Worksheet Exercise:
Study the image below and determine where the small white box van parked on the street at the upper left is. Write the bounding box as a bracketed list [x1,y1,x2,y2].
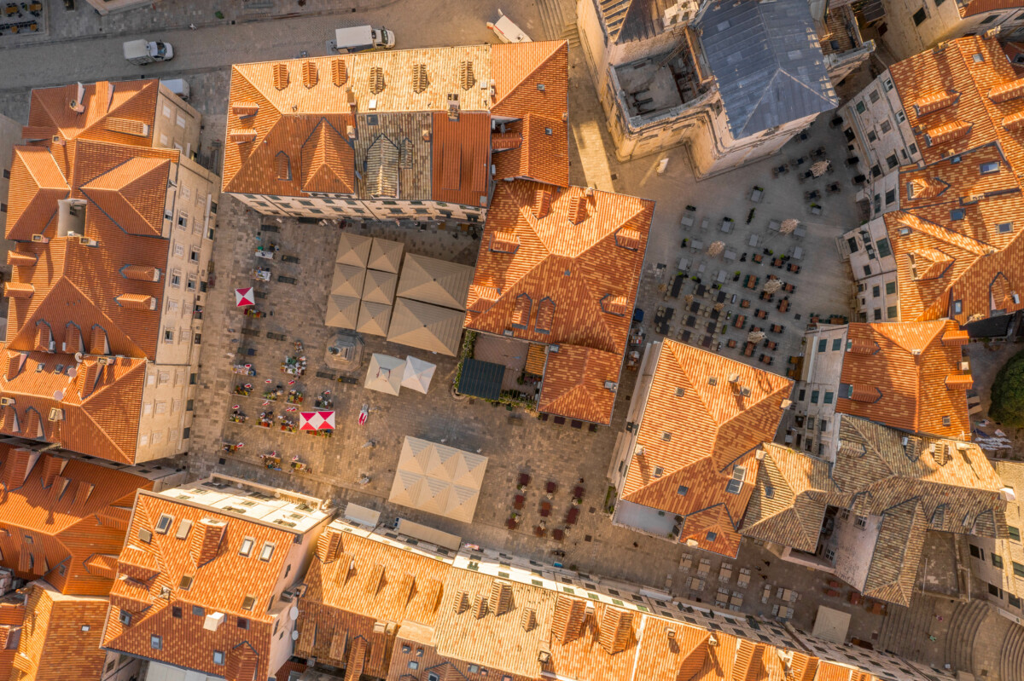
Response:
[118,38,176,64]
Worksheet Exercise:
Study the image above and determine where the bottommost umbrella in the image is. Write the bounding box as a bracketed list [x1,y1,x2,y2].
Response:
[811,605,851,644]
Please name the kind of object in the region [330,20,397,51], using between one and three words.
truck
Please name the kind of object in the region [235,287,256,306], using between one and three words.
umbrella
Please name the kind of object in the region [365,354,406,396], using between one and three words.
tent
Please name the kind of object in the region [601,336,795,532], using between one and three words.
house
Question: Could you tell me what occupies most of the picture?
buildings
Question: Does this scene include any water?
No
